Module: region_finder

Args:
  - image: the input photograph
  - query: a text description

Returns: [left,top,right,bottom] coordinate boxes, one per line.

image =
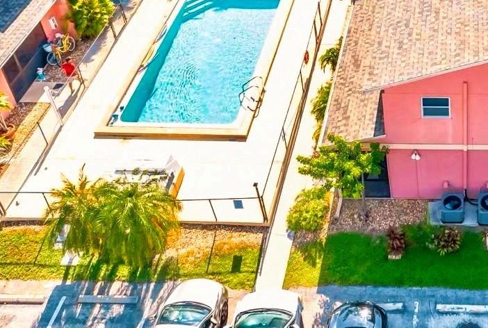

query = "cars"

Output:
[225,288,309,328]
[135,281,227,328]
[320,297,400,328]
